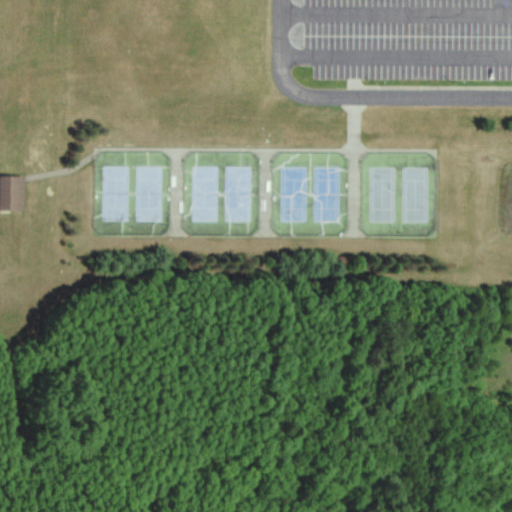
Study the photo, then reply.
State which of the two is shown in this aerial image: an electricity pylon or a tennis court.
tennis court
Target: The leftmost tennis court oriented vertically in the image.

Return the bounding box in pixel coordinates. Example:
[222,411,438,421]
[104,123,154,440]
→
[102,166,130,222]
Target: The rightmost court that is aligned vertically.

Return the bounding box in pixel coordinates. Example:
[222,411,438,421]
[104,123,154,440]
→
[402,168,428,223]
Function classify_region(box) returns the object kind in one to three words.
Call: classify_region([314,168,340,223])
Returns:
tennis court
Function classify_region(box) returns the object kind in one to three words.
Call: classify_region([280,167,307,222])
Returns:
tennis court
